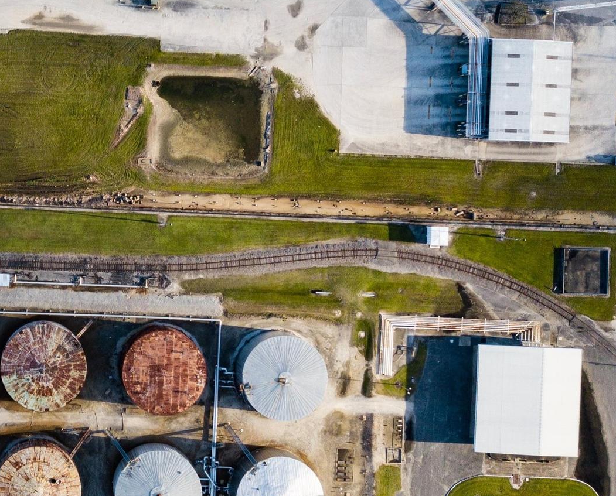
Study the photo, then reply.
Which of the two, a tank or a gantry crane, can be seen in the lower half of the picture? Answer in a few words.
tank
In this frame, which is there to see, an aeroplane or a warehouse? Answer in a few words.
warehouse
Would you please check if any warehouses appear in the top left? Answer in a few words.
No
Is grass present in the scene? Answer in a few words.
Yes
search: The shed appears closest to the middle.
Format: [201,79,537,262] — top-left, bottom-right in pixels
[426,227,449,249]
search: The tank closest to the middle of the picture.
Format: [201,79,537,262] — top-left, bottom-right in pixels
[236,330,328,421]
